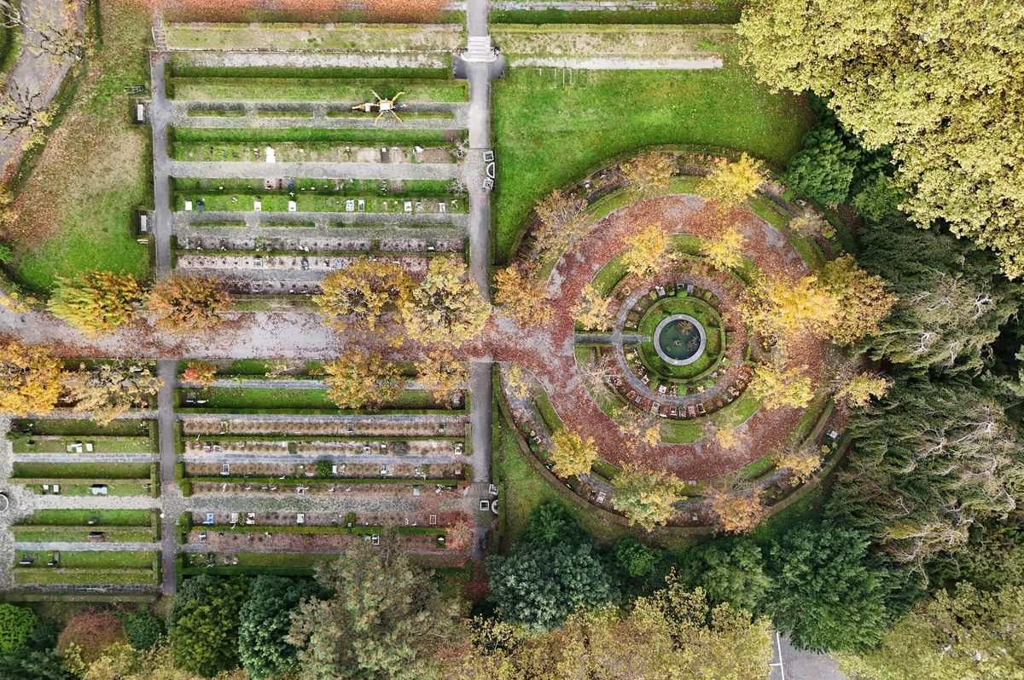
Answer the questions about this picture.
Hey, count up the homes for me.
0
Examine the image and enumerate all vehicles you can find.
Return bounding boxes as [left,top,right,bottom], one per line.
[352,88,407,127]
